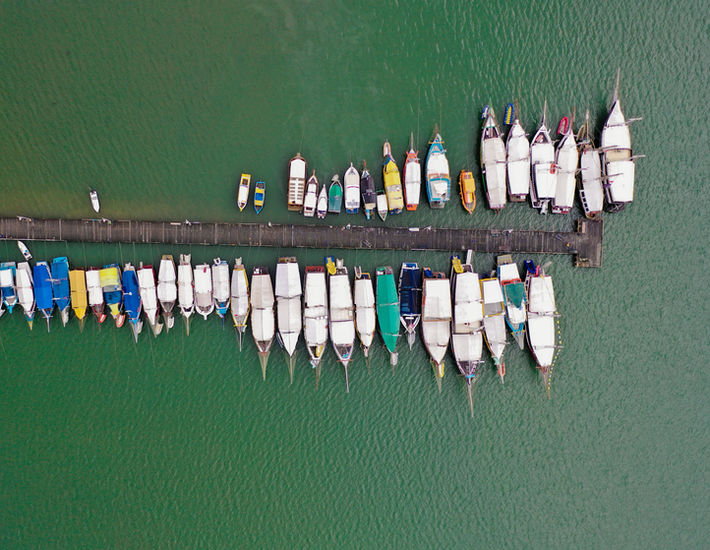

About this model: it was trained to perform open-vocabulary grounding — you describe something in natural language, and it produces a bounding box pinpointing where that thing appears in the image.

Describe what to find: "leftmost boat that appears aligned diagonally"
[18,241,33,261]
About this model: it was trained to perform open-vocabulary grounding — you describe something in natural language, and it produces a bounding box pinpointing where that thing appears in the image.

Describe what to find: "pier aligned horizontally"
[0,216,604,268]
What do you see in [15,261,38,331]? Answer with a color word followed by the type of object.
white boat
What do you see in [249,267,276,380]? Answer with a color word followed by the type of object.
white boat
